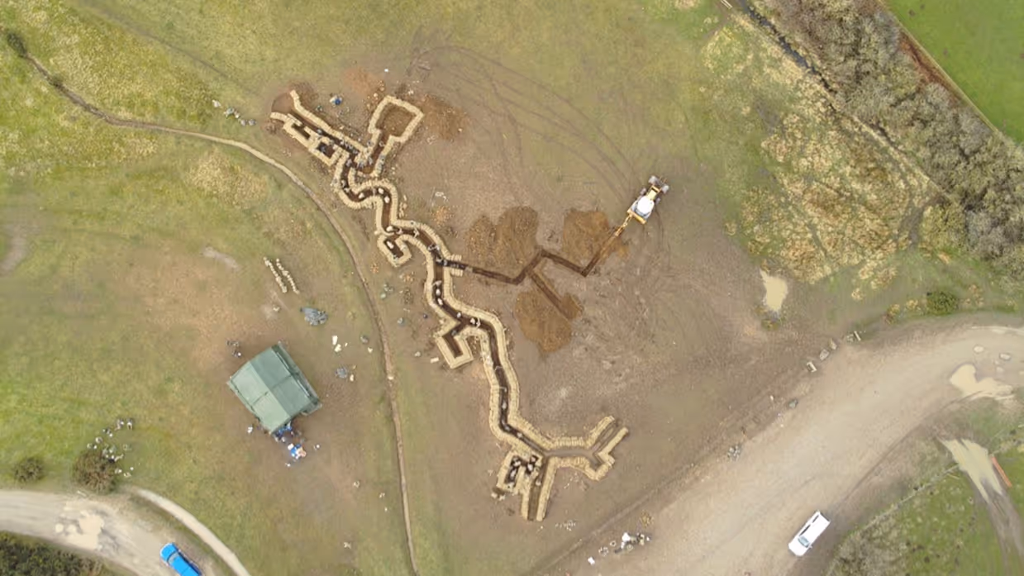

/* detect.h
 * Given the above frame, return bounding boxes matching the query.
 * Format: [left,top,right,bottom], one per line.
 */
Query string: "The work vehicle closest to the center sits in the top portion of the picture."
[610,174,671,243]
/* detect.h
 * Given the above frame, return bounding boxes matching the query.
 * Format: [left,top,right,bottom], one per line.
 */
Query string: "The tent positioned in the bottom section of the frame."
[227,336,327,434]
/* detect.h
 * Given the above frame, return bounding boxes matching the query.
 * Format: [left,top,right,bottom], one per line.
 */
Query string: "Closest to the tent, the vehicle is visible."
[160,539,206,576]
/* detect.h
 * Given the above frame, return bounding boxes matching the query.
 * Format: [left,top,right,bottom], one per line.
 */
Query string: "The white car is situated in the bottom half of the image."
[786,508,830,554]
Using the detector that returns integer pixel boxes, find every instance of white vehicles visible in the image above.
[610,174,671,243]
[786,508,830,554]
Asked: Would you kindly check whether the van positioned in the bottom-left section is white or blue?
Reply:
blue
